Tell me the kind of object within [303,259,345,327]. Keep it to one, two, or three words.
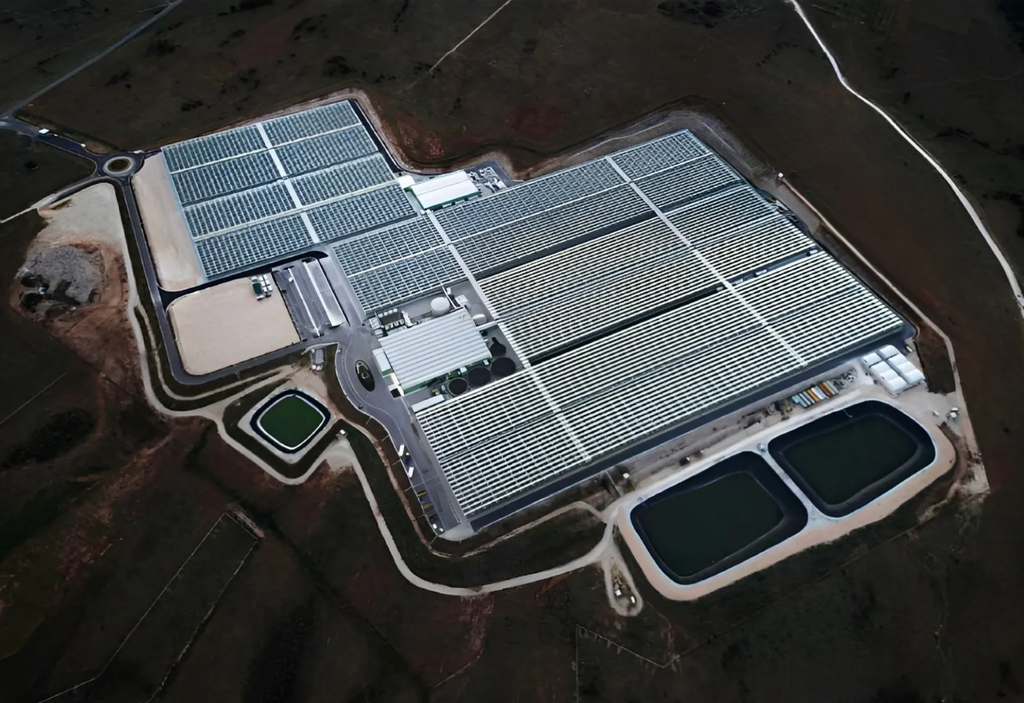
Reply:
shed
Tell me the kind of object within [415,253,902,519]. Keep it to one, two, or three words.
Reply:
greenhouse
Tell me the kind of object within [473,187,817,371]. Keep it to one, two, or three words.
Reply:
greenhouse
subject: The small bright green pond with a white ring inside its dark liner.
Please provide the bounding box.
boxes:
[251,390,330,452]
